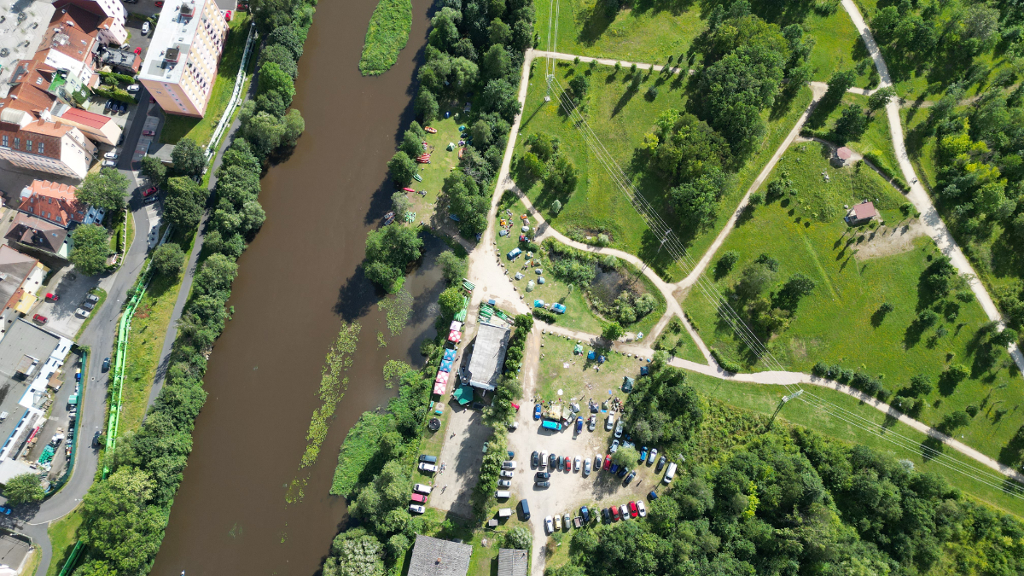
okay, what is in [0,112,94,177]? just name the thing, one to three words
house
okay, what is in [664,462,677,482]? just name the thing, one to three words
vehicle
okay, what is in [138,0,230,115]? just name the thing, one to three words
building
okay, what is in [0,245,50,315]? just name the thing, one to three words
house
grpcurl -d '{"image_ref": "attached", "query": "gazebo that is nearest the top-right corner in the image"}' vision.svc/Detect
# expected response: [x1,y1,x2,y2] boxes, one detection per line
[834,147,850,163]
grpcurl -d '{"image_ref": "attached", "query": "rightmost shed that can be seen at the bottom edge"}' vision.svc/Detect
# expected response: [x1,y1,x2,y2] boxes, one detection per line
[498,548,527,576]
